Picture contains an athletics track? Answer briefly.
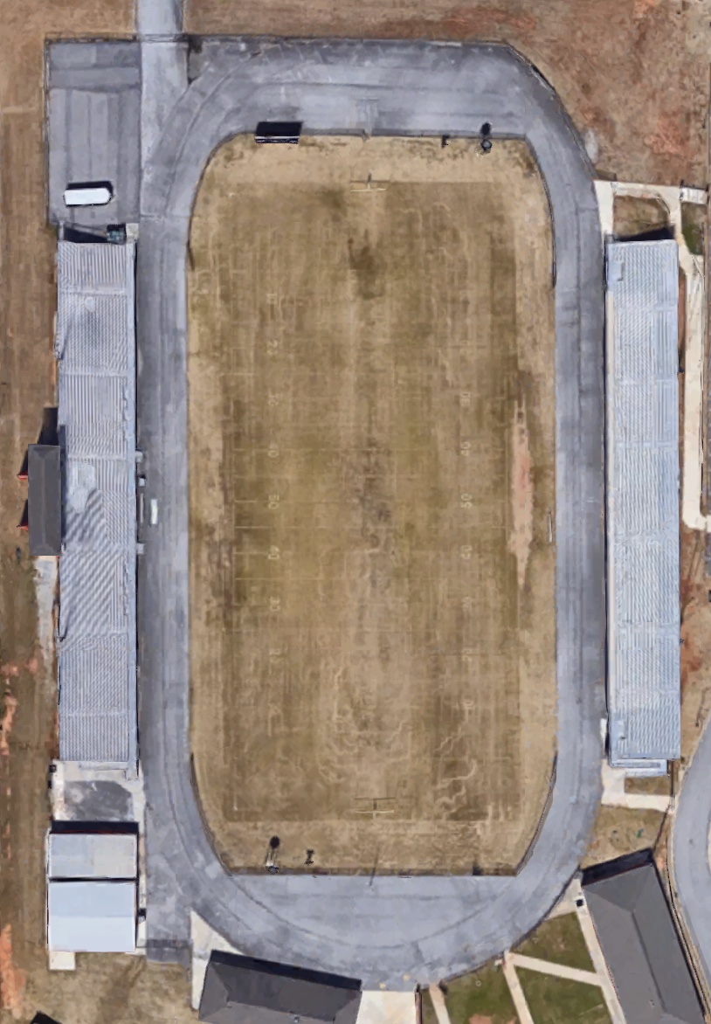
Yes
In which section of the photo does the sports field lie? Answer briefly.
center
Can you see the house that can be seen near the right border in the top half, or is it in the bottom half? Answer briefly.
bottom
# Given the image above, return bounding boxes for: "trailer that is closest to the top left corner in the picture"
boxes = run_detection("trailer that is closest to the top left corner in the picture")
[64,188,120,209]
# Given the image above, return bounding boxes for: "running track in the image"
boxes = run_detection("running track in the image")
[138,41,605,991]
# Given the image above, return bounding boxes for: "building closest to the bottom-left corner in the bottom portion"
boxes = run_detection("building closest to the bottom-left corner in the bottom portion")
[47,879,137,951]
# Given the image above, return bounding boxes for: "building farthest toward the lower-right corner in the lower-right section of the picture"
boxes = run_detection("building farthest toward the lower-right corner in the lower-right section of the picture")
[581,862,705,1024]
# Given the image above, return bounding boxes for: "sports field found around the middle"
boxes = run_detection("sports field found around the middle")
[188,134,556,875]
